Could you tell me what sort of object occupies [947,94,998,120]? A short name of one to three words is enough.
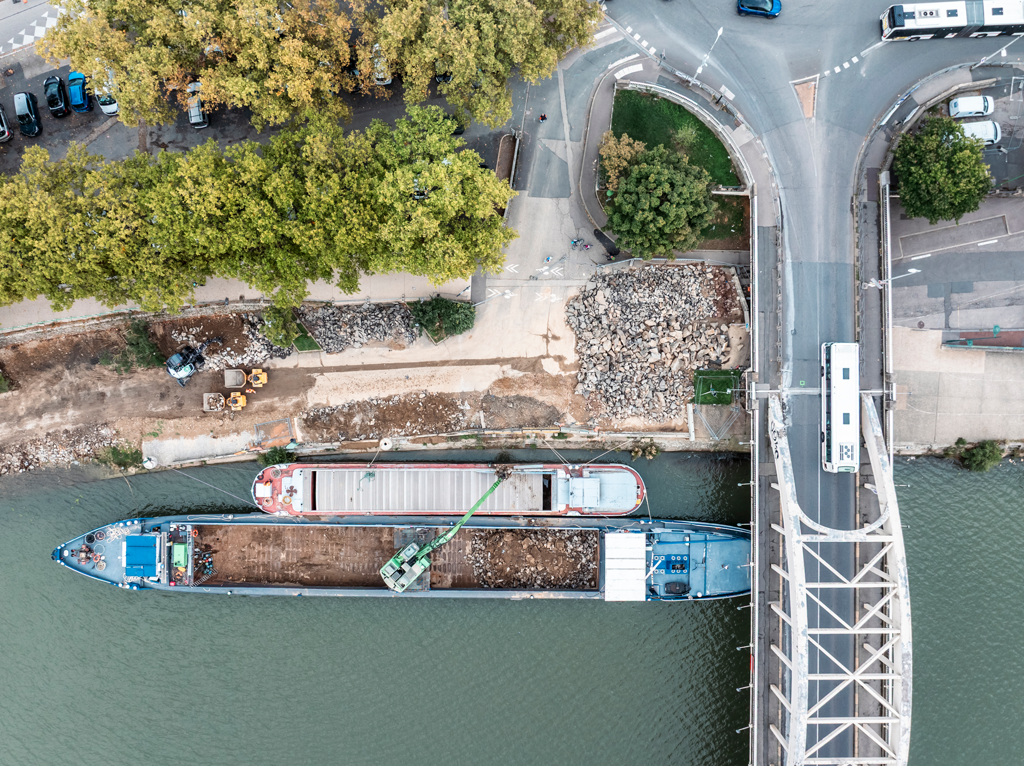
vehicle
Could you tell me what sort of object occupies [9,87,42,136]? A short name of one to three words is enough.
car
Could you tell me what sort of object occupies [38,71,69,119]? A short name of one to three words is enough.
car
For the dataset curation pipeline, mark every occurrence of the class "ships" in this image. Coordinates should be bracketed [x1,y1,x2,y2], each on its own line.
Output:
[47,512,747,602]
[250,462,647,516]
